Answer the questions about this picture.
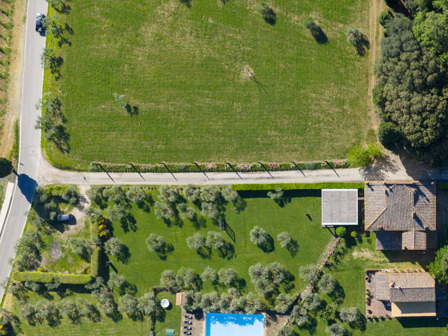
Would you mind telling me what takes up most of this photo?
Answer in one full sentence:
The largest share of the image is taken up by grass.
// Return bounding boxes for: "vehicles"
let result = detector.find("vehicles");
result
[36,14,44,31]
[57,214,72,222]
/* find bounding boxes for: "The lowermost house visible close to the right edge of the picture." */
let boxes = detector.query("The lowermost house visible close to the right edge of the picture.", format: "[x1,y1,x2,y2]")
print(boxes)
[374,271,447,317]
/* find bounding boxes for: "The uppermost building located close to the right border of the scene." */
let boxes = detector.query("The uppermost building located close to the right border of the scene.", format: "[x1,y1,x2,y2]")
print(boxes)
[362,179,438,250]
